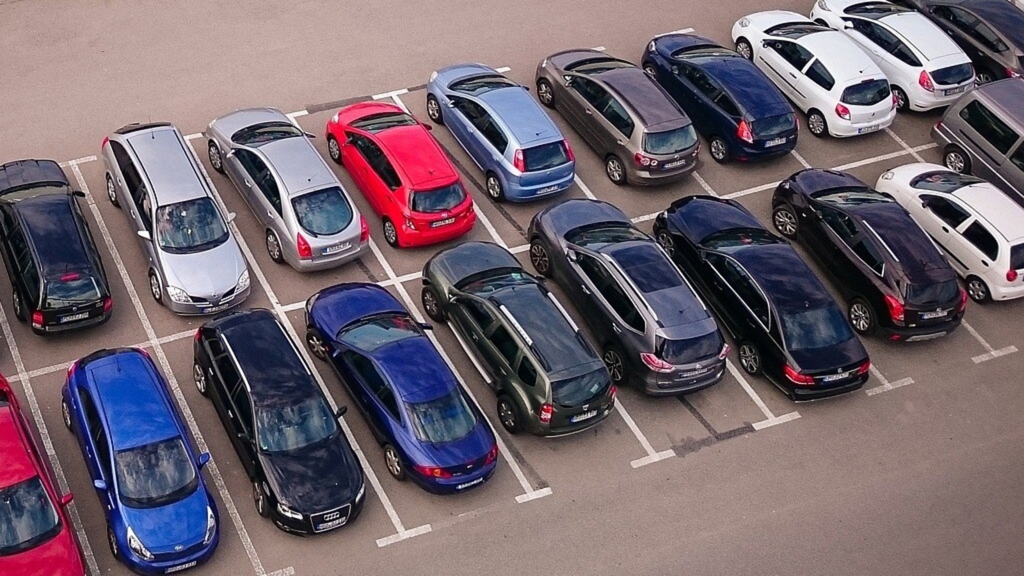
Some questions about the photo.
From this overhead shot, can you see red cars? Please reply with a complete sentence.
Yes, a red car appears in the view.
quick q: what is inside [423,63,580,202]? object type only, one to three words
car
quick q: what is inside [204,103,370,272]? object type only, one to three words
car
